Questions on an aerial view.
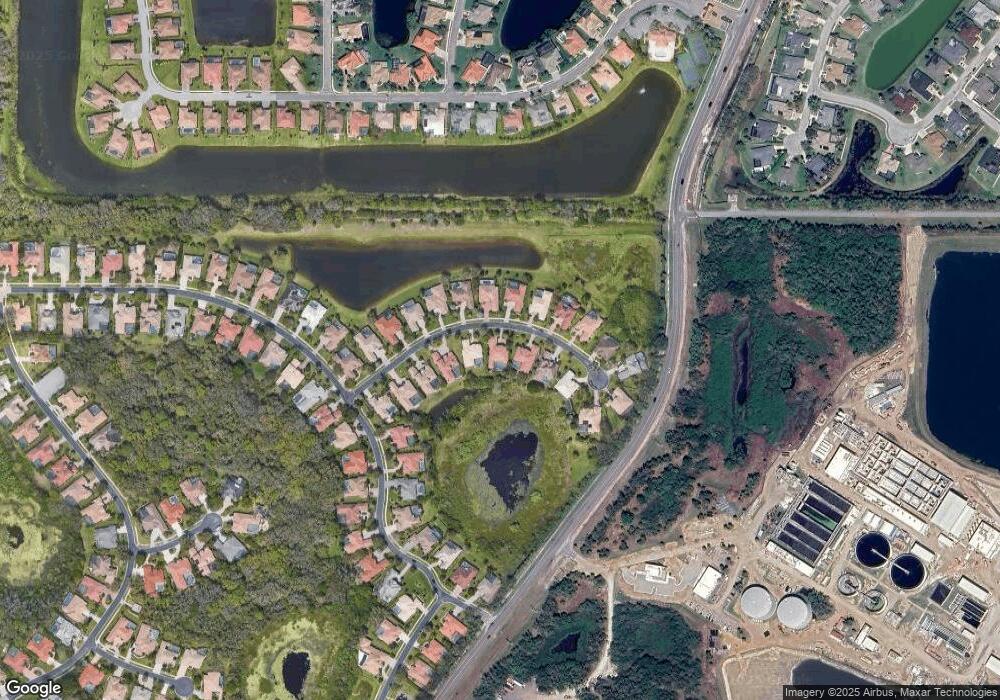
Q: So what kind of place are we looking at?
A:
residential area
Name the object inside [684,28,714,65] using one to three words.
tennis court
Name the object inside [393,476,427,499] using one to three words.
house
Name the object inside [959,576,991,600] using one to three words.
building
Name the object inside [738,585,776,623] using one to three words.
storage tank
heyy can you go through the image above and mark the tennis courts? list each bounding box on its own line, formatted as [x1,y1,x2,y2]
[674,55,703,92]
[684,28,714,65]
